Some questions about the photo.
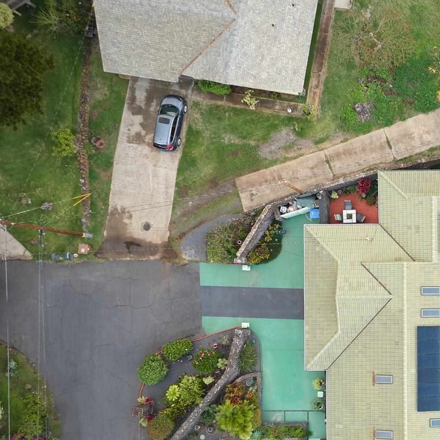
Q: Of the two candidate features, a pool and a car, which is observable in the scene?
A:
car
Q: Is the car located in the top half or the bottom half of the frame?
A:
top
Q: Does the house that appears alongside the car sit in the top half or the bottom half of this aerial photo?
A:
top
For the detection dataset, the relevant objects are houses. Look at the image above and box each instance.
[303,170,440,440]
[90,0,319,96]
